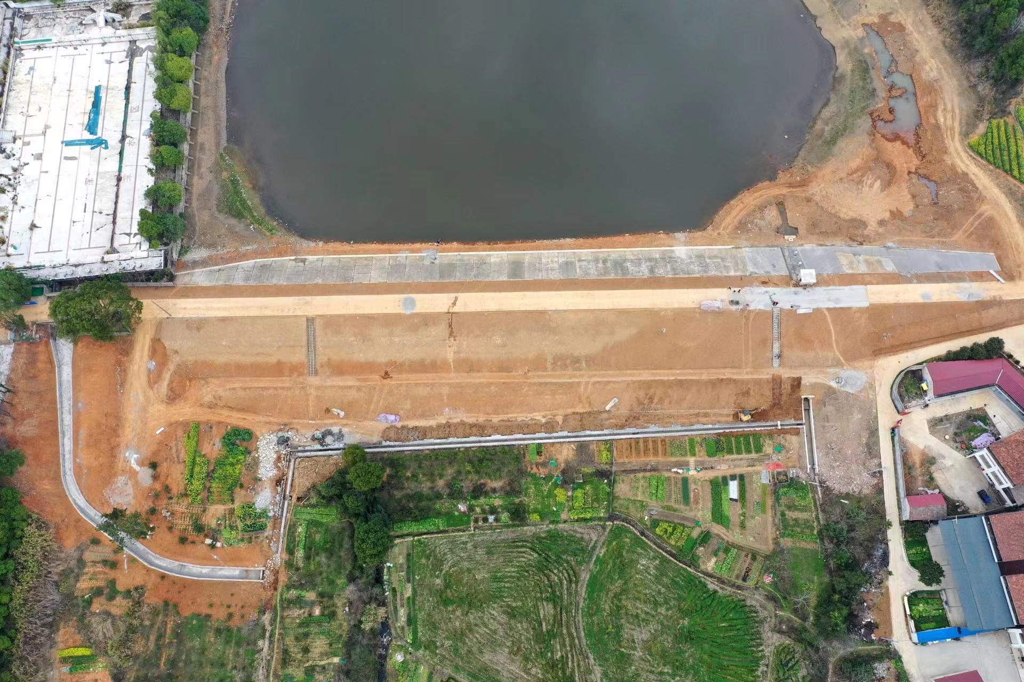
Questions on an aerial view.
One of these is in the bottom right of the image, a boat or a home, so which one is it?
home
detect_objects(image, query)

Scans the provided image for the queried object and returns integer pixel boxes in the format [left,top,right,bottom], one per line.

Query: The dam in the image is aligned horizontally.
[134,230,1024,447]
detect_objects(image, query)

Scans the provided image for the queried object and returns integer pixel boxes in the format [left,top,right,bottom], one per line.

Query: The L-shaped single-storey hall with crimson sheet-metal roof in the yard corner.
[924,358,1024,414]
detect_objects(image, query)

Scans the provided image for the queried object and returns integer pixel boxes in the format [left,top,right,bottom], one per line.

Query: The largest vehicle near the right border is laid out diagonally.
[977,487,994,505]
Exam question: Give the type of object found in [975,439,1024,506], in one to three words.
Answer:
house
